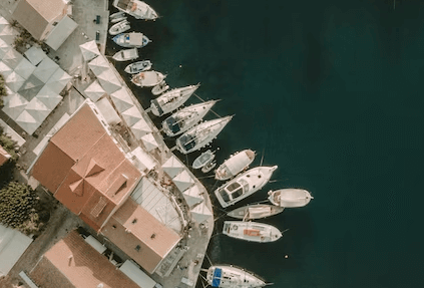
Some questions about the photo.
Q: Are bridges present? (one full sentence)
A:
No, the frame has no bridge in it.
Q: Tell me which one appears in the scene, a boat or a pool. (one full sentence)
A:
Visible in the photo is a boat.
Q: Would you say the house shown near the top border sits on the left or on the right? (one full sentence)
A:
It is on the left.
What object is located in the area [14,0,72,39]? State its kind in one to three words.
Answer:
house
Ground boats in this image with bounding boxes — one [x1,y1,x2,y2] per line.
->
[152,81,172,94]
[209,217,282,241]
[200,150,260,195]
[214,201,285,220]
[111,13,131,21]
[110,48,140,62]
[110,19,133,34]
[144,84,202,115]
[128,68,167,88]
[199,257,270,288]
[237,186,314,208]
[111,31,150,49]
[117,59,155,72]
[192,147,217,166]
[158,99,220,136]
[202,159,217,171]
[210,164,282,208]
[167,112,238,159]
